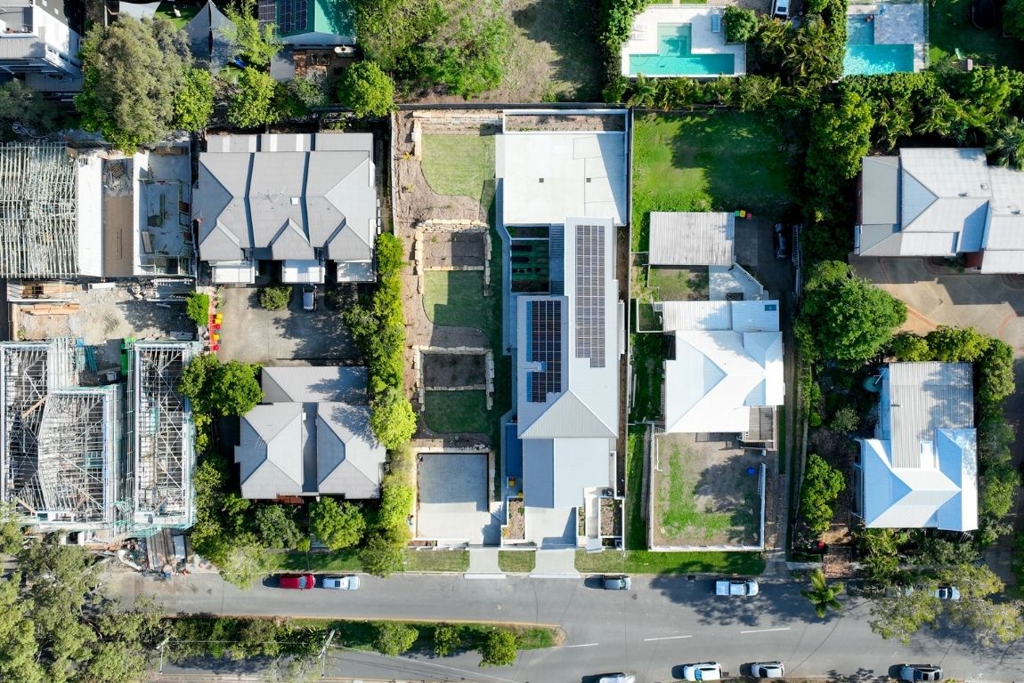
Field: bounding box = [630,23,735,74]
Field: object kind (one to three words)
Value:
swimming pool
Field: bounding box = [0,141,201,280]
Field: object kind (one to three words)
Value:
building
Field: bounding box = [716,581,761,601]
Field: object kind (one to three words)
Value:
vehicle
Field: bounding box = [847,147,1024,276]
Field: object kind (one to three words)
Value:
house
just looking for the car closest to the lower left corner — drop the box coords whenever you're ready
[276,574,314,594]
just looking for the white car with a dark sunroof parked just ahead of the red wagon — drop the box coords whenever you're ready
[321,575,359,595]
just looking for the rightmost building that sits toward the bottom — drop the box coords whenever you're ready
[847,361,979,540]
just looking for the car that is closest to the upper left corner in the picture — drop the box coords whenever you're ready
[298,284,316,313]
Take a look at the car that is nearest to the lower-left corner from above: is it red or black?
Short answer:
red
